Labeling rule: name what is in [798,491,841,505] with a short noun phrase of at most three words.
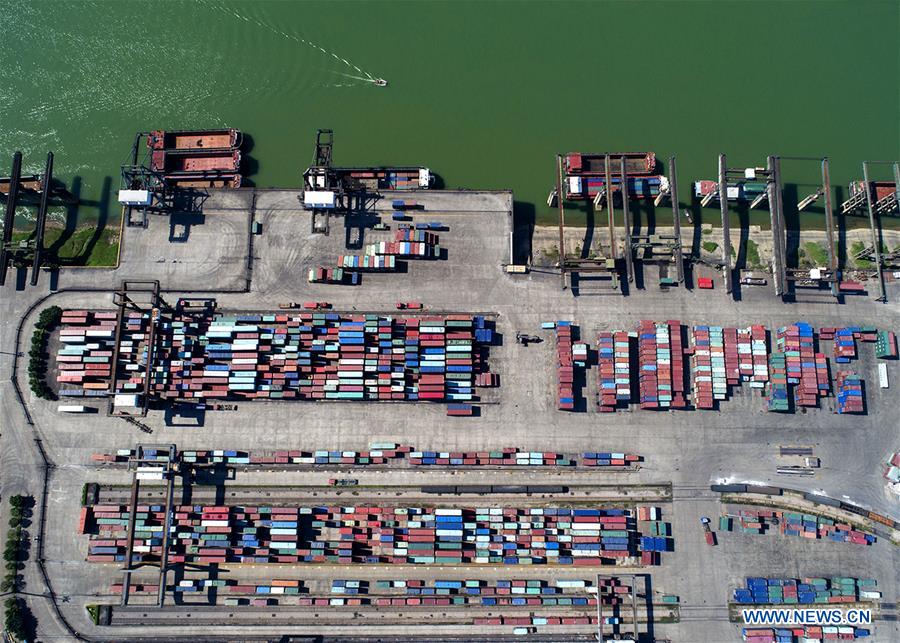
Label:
rail car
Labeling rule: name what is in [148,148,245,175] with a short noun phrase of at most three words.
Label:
ship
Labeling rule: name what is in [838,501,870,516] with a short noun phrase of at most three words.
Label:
rail car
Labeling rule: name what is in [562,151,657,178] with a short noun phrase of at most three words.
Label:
ship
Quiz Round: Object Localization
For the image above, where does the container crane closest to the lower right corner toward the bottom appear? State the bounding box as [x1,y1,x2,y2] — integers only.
[586,573,640,643]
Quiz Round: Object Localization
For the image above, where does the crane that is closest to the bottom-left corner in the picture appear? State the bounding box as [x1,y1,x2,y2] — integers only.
[119,444,194,606]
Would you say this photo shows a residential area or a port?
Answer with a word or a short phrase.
port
